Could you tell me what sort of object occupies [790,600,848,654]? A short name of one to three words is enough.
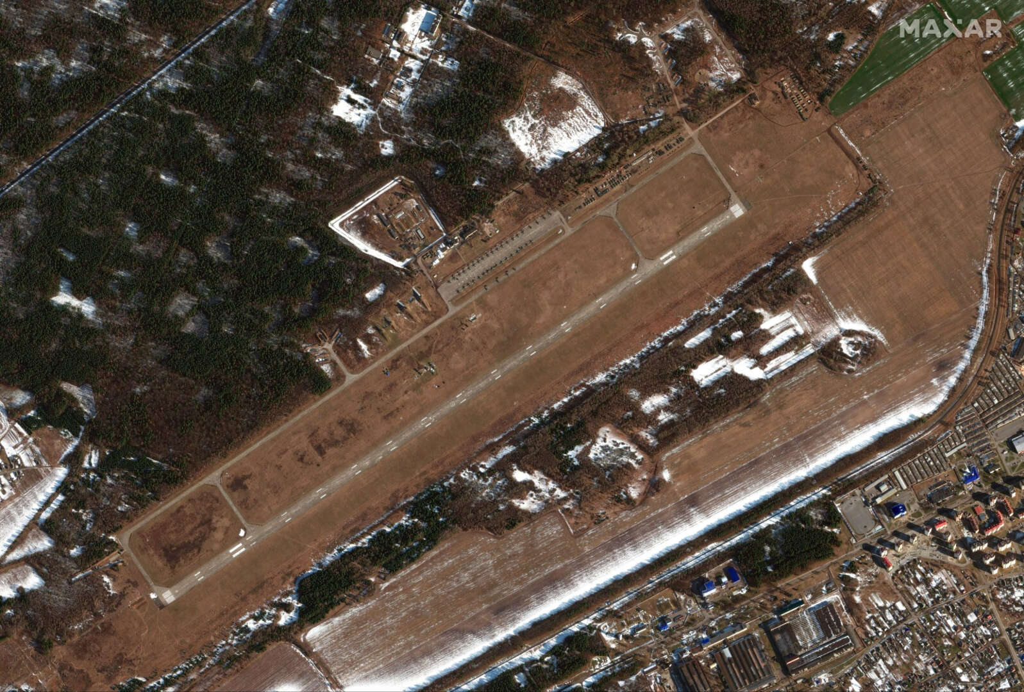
building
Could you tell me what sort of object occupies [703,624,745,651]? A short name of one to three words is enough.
building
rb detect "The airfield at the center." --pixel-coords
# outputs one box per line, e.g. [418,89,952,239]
[0,90,872,680]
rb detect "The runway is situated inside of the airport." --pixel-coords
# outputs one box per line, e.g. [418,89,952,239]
[158,201,747,608]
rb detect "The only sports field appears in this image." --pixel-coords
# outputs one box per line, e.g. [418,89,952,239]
[839,493,878,536]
